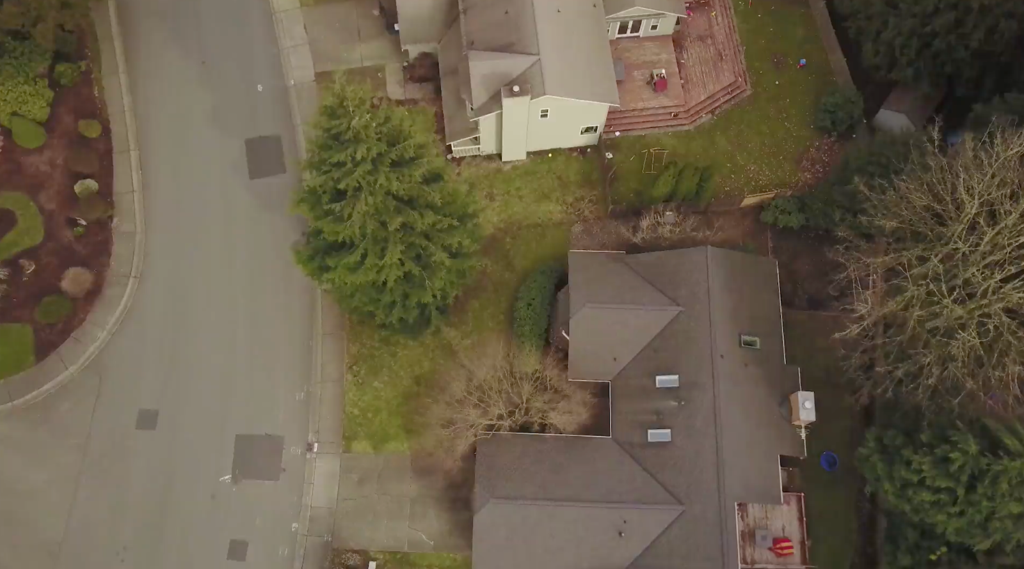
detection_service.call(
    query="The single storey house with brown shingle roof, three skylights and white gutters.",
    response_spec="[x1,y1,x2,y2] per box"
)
[471,245,819,569]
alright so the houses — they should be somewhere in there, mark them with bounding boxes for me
[471,245,819,569]
[397,0,687,161]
